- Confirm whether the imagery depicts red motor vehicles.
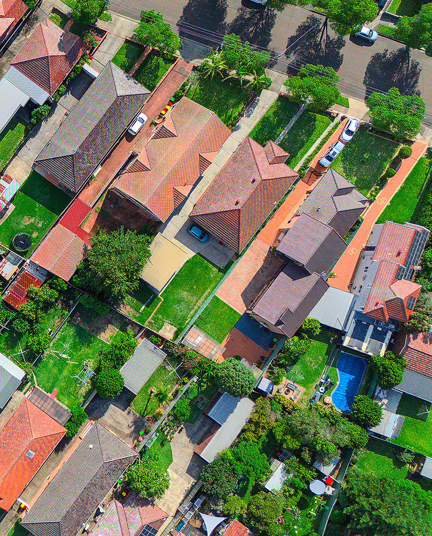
No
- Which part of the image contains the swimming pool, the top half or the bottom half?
bottom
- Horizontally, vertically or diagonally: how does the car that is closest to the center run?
diagonally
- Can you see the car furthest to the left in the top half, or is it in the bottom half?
top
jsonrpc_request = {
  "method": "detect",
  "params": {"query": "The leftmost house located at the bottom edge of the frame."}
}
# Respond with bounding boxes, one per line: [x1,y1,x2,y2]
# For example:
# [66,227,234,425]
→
[0,399,65,511]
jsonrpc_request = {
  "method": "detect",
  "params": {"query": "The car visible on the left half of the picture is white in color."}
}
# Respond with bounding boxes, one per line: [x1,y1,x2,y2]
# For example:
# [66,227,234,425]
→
[125,111,148,136]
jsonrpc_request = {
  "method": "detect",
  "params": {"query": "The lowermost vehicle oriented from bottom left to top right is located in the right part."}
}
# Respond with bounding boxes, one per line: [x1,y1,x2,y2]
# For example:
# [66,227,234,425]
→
[316,140,346,171]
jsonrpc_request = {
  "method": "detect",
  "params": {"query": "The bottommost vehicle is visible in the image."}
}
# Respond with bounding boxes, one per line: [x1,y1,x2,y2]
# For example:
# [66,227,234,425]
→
[184,221,210,243]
